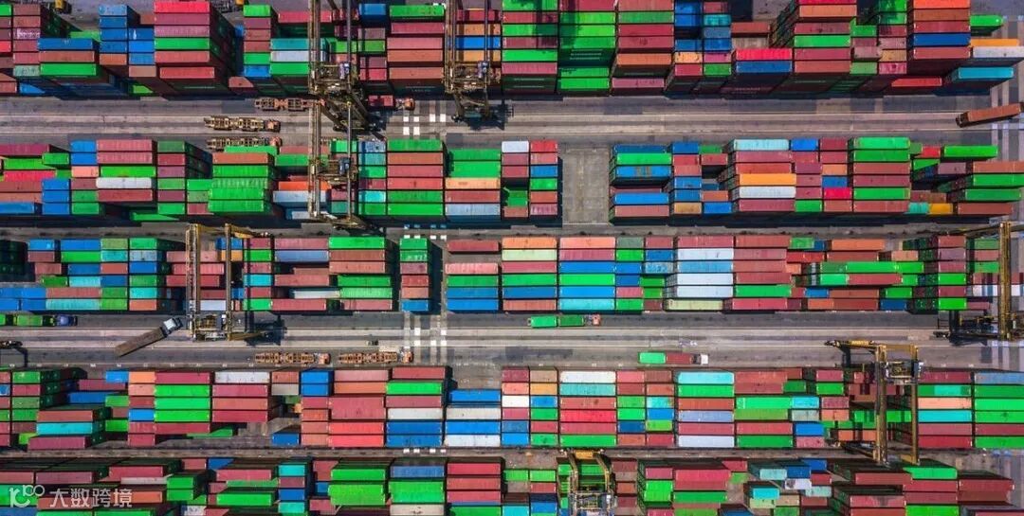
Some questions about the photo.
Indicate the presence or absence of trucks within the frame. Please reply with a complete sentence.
Yes, the picture does show a truck.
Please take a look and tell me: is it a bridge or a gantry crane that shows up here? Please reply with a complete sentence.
This aerial view contains a gantry crane.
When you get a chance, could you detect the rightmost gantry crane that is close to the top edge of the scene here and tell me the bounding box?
[443,0,497,124]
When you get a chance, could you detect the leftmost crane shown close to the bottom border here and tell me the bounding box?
[561,447,619,516]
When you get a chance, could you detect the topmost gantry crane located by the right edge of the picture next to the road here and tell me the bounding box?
[930,217,1024,345]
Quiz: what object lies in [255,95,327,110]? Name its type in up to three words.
vehicle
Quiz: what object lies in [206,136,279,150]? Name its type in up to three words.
vehicle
